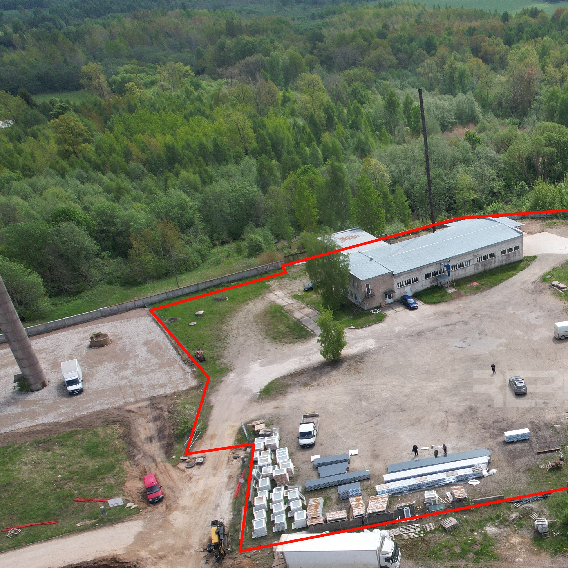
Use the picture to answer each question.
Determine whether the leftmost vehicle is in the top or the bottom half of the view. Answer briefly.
bottom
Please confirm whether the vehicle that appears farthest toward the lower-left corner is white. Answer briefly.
No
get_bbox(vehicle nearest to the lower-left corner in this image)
[141,472,163,503]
